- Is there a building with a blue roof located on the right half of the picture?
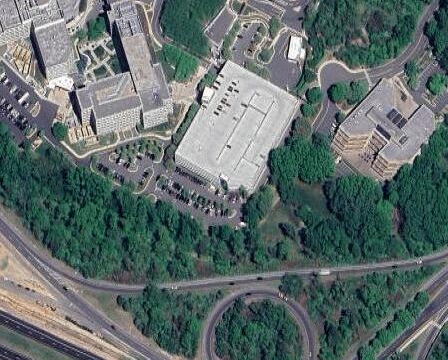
No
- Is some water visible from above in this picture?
No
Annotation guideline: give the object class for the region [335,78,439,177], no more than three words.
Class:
building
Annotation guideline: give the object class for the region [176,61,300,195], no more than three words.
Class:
building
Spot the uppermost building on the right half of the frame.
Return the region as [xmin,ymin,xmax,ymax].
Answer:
[289,35,304,61]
